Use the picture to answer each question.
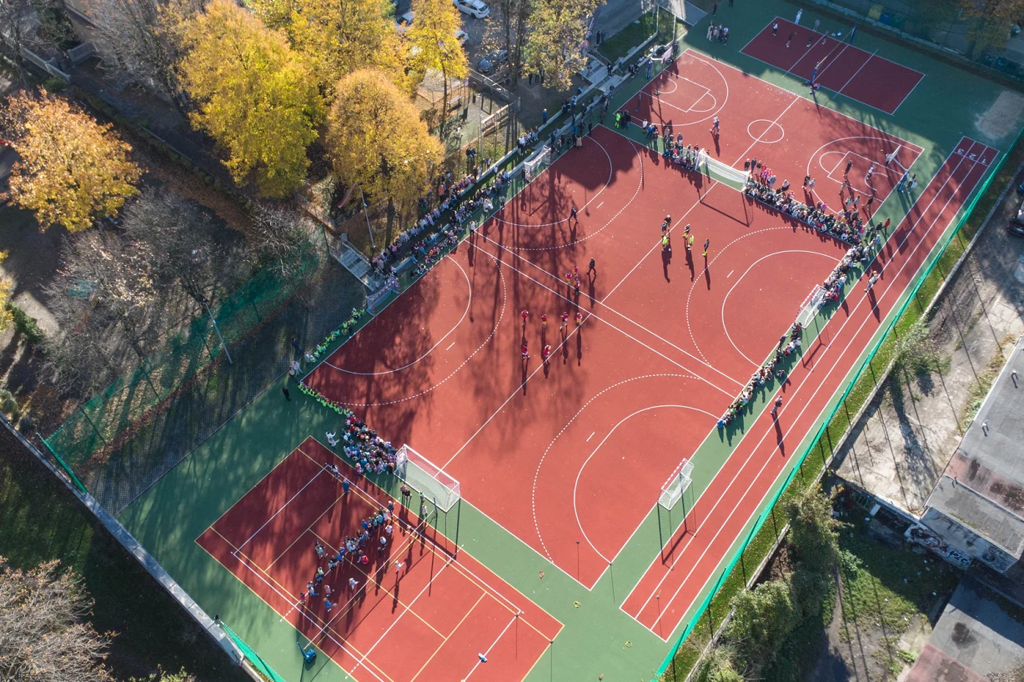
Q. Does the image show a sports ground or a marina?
sports ground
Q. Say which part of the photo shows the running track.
right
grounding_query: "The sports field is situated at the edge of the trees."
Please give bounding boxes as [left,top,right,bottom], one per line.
[302,124,851,590]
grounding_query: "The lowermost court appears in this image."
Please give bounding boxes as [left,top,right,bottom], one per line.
[196,437,563,682]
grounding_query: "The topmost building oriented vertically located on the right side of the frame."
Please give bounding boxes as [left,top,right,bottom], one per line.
[922,323,1024,563]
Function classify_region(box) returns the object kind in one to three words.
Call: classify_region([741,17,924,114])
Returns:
sports court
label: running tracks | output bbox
[621,137,999,640]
